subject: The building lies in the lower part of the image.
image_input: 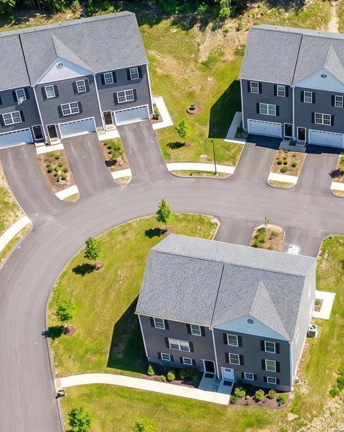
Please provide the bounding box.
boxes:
[135,233,318,392]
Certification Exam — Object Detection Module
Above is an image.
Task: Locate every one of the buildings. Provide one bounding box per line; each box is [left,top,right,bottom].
[0,11,153,149]
[135,233,318,392]
[240,24,344,149]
